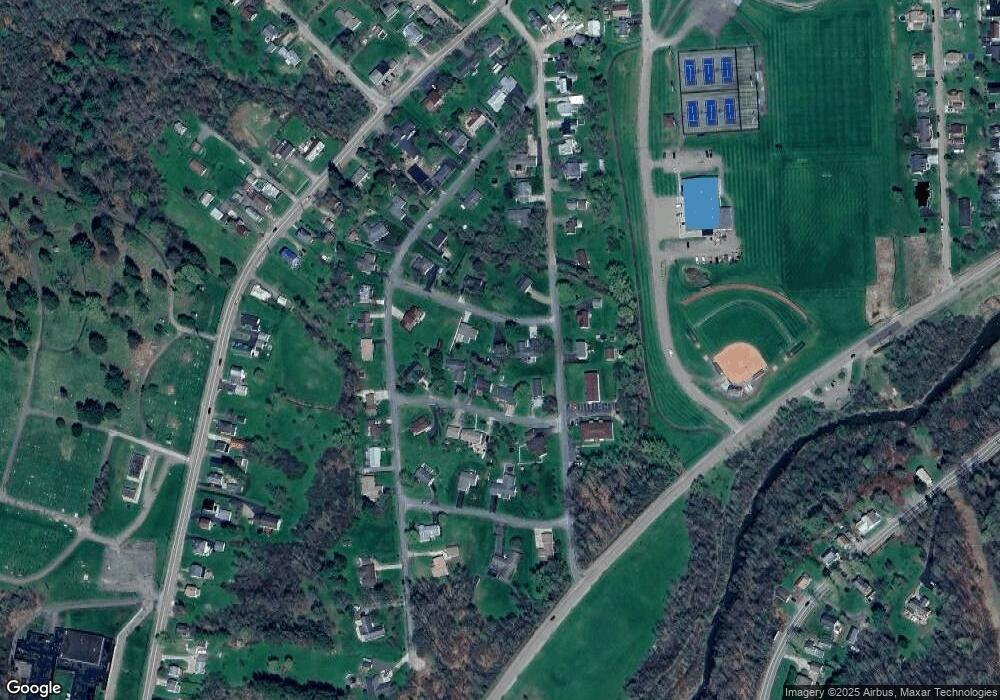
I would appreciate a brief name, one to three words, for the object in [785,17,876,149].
sports field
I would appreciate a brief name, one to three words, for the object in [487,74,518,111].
house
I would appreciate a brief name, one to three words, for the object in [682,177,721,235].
building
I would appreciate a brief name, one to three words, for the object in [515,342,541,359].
house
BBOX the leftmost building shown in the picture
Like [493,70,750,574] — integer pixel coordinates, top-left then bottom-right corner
[14,629,113,700]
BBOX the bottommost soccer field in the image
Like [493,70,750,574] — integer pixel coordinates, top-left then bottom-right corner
[787,155,867,288]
